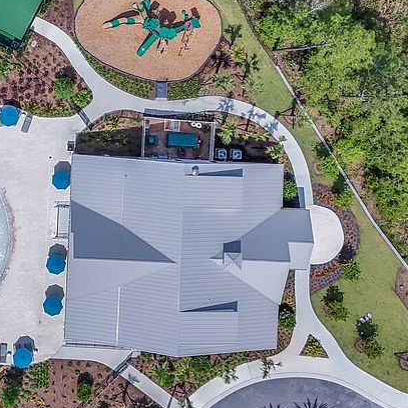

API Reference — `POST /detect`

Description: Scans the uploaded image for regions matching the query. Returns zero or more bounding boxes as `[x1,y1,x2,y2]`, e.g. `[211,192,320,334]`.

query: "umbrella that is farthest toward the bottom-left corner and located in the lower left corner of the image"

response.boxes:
[13,347,34,368]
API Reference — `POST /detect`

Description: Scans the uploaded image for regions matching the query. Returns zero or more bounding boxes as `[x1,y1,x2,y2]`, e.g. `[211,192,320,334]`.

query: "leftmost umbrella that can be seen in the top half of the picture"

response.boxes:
[0,105,19,125]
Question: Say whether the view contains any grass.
Yes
